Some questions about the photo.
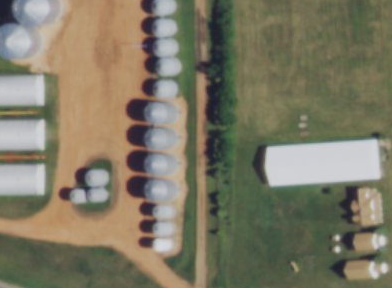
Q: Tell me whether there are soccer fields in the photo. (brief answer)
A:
No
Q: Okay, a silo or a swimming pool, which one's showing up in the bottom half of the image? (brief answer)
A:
silo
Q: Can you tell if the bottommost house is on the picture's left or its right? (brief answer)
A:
right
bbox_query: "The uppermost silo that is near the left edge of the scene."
[12,0,64,28]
